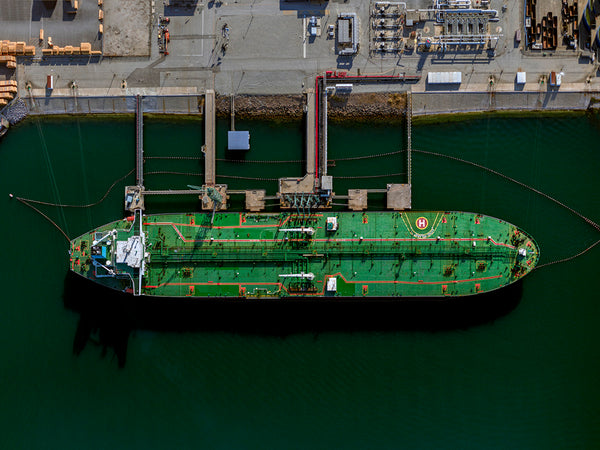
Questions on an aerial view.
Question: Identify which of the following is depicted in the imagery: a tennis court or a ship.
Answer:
ship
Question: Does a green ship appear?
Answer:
Yes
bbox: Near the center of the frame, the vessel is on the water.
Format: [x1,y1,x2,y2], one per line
[67,209,540,298]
